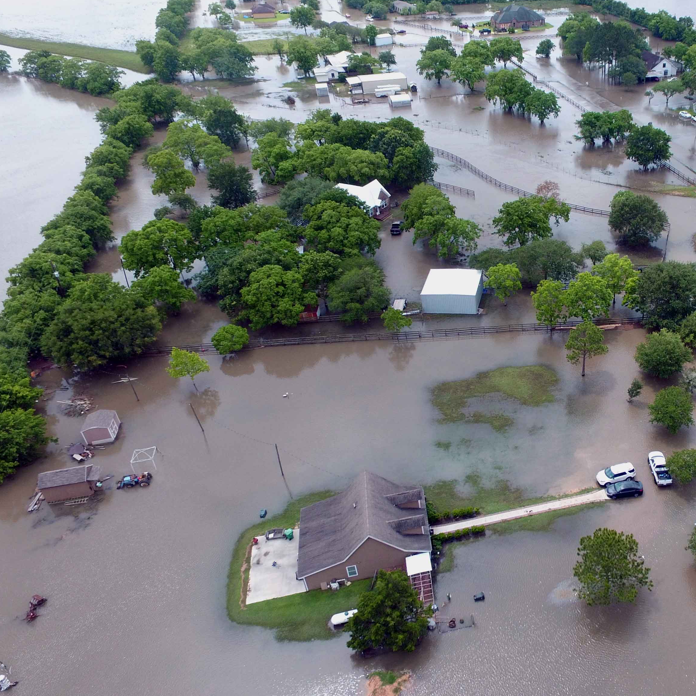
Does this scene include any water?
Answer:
Yes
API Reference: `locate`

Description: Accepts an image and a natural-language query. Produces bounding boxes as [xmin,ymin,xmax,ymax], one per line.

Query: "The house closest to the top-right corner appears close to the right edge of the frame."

[634,48,690,83]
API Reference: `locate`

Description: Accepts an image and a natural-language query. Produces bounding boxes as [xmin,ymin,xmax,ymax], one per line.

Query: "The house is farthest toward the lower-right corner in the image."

[296,469,431,591]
